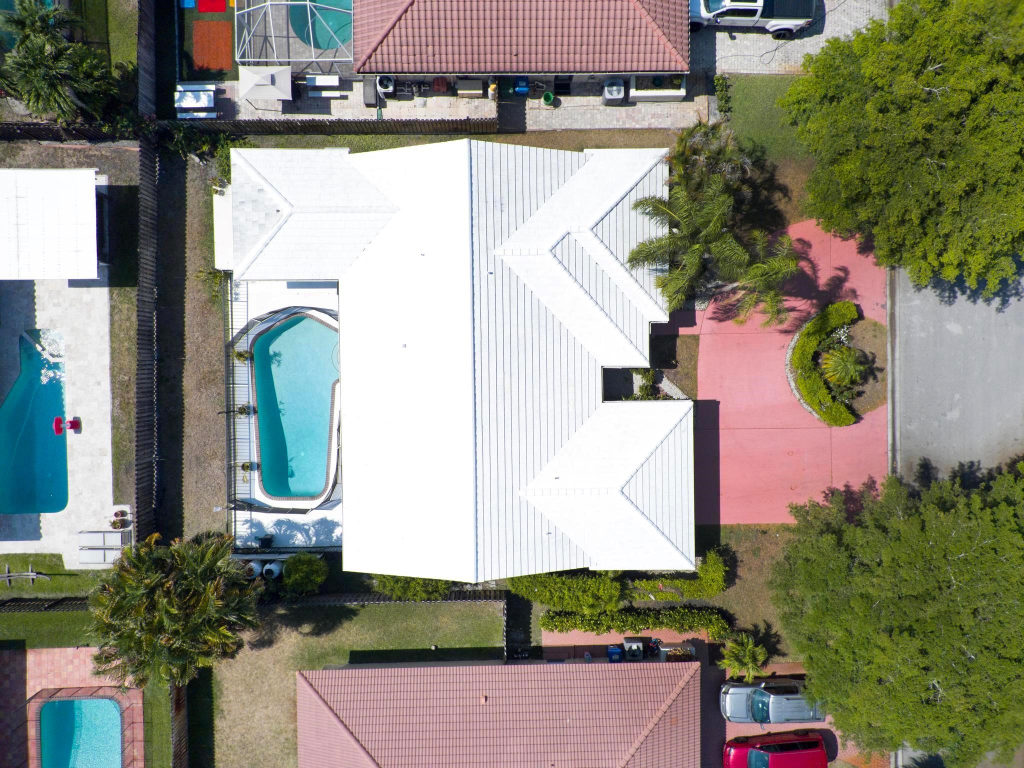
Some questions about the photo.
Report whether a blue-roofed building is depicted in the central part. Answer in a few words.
No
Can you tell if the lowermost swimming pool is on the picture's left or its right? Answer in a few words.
left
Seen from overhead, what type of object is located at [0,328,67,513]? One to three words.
swimming pool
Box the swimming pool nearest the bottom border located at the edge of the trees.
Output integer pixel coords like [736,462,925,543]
[34,694,126,768]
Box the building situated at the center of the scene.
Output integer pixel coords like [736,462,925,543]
[227,137,698,584]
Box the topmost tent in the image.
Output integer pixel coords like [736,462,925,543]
[239,66,305,116]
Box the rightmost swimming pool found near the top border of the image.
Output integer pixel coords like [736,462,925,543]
[285,0,352,52]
